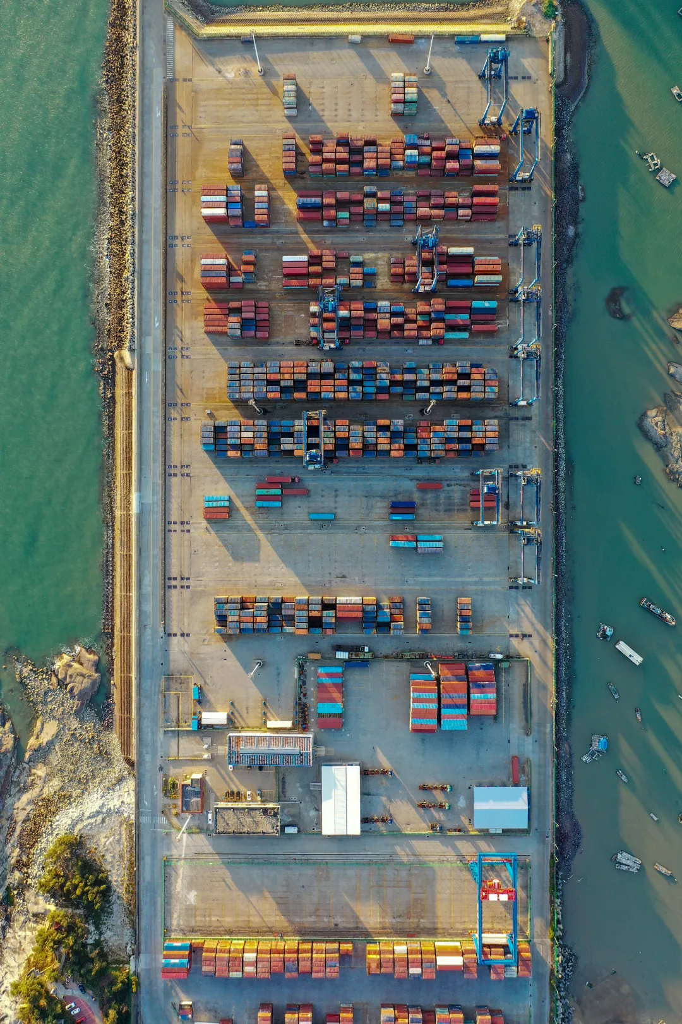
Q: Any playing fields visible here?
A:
No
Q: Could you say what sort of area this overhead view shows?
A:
port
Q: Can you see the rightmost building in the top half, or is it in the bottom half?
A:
bottom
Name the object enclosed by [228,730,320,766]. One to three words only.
building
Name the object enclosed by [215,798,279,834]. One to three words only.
building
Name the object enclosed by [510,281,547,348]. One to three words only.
container crane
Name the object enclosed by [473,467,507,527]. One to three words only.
container crane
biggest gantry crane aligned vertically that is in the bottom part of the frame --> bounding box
[470,855,518,961]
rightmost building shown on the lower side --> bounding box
[472,781,529,829]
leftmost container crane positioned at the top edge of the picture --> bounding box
[479,49,513,123]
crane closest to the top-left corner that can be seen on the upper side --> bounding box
[318,284,344,347]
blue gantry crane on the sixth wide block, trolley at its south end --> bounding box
[303,408,329,468]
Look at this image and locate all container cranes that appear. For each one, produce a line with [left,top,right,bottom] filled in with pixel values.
[510,468,547,528]
[473,467,507,527]
[303,408,329,468]
[318,284,344,347]
[511,104,547,180]
[479,49,513,123]
[510,221,547,292]
[510,281,547,348]
[414,225,445,292]
[510,340,547,405]
[510,528,547,587]
[470,855,518,961]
